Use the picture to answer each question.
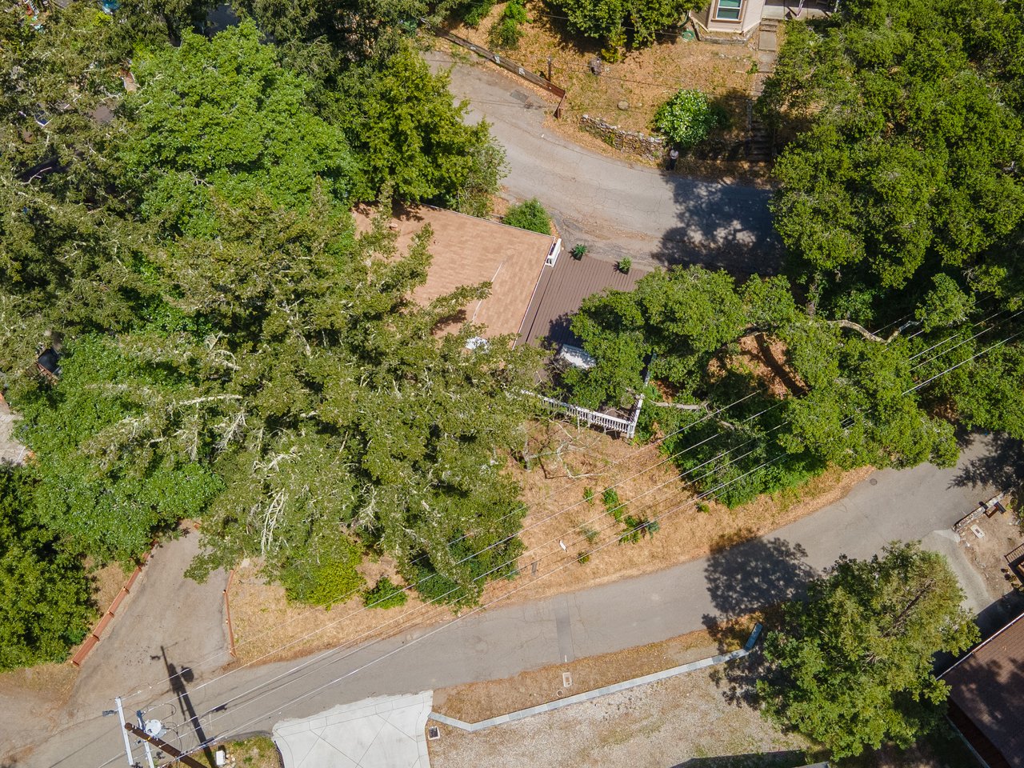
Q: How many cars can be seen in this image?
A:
0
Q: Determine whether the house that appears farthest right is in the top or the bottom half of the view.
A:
bottom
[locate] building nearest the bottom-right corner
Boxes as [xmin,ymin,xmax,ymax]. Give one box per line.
[917,610,1024,768]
